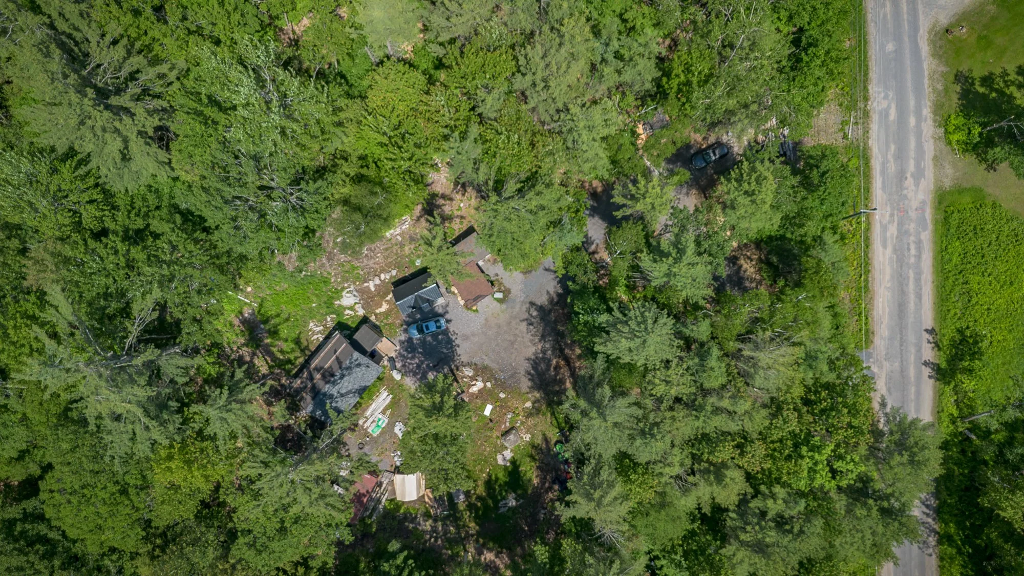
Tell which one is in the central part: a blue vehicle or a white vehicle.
blue vehicle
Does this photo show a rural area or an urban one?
rural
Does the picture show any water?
No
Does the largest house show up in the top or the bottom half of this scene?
bottom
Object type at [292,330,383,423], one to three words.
house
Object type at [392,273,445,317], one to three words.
shed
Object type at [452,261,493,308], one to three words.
shed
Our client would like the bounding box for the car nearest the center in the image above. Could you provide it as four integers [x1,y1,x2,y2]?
[406,315,449,339]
